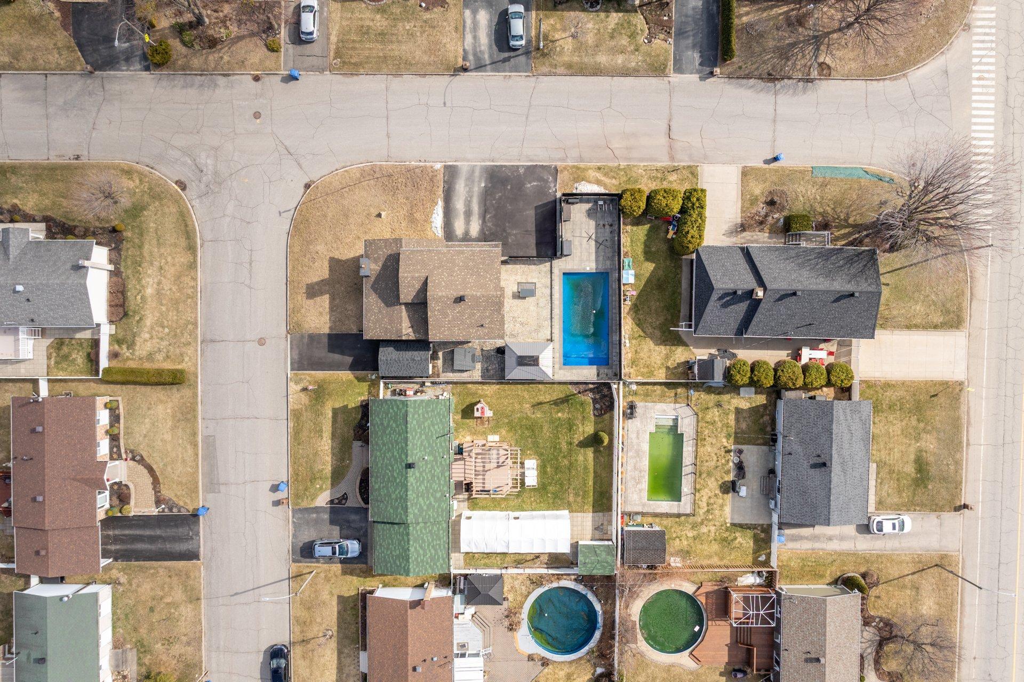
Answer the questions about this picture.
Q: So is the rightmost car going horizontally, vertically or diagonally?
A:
horizontally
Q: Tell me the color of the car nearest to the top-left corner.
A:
white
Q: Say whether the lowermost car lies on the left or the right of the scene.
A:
left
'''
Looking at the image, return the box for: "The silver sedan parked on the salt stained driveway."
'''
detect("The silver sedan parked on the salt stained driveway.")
[505,3,526,50]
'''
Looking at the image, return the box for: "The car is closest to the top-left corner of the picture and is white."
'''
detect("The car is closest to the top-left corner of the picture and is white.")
[298,0,320,42]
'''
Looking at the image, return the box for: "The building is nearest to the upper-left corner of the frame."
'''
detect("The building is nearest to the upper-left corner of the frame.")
[0,226,113,326]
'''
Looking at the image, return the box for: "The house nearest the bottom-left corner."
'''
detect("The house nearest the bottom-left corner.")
[13,579,138,682]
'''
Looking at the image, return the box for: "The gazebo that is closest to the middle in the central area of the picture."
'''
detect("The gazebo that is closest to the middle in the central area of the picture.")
[504,341,553,380]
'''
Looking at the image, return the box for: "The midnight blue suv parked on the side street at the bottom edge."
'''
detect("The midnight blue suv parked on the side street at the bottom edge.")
[267,645,292,682]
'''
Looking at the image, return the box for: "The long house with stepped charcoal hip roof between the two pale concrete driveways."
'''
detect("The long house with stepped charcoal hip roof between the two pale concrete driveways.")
[692,231,883,339]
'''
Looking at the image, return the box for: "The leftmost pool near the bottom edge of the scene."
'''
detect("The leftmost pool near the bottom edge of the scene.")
[514,580,604,663]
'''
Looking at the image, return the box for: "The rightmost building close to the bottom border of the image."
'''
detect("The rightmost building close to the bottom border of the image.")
[771,584,861,682]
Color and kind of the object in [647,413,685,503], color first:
green swimming pool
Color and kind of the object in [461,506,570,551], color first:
white tent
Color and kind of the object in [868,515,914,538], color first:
white car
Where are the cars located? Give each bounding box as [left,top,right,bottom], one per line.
[868,515,914,538]
[313,537,361,561]
[505,3,526,50]
[298,0,320,42]
[267,645,292,682]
